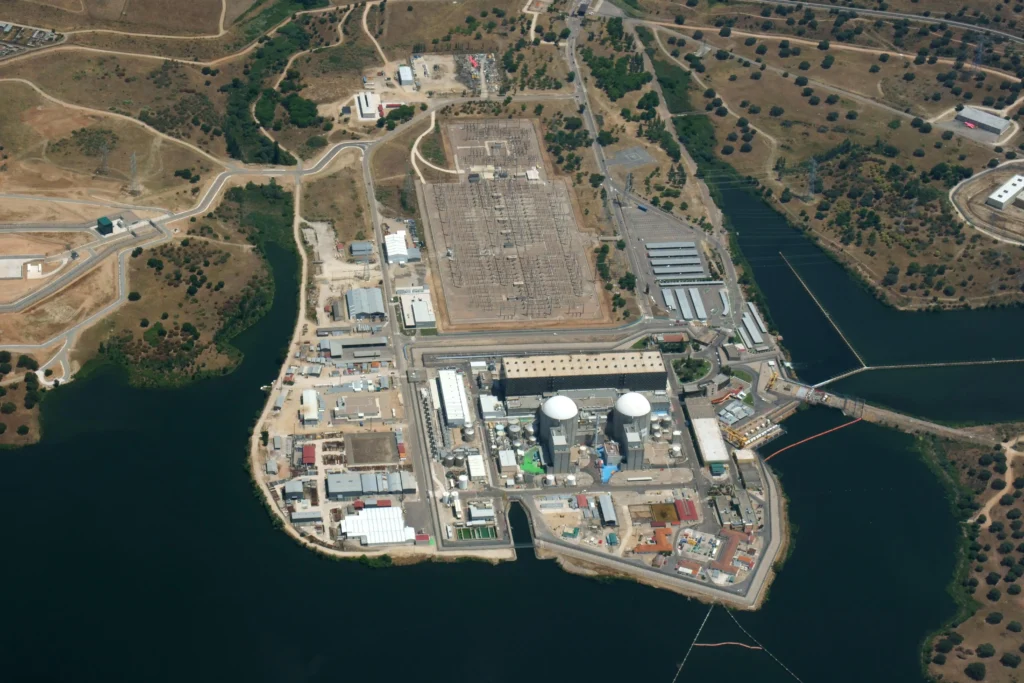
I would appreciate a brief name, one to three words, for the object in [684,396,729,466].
building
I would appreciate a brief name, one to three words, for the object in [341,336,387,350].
shed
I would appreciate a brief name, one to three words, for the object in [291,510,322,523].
shed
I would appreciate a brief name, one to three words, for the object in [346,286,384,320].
building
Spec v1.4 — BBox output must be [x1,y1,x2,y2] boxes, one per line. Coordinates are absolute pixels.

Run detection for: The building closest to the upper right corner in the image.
[956,106,1010,132]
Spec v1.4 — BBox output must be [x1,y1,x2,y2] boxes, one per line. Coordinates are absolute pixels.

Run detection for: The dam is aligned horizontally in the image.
[785,385,866,417]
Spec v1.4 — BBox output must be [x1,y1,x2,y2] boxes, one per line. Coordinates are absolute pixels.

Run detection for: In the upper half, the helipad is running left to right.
[607,147,656,167]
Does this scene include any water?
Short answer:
Yes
